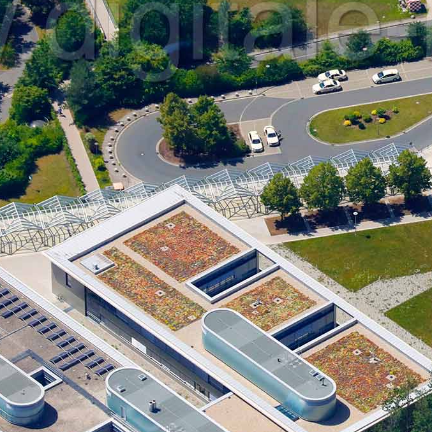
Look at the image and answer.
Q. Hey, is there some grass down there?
Yes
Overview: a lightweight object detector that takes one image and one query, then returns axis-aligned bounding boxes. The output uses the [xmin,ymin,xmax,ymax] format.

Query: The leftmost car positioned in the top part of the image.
[248,132,262,151]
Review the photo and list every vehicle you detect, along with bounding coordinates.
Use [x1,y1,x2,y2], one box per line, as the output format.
[248,132,262,151]
[264,126,284,145]
[312,79,342,93]
[320,67,348,81]
[373,67,398,83]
